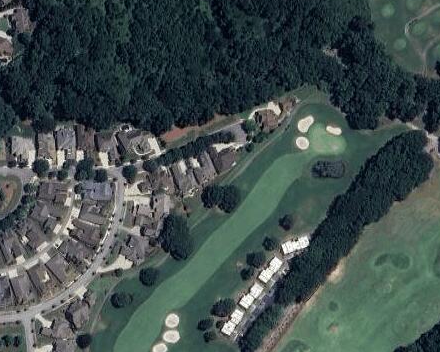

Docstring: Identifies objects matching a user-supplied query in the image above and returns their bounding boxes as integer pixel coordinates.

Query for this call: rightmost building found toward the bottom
[281,234,310,253]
